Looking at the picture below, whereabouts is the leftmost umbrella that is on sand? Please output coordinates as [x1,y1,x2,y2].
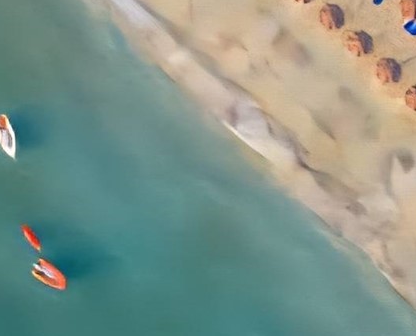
[320,5,342,27]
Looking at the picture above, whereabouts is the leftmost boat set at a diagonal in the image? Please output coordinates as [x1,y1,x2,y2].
[22,223,41,251]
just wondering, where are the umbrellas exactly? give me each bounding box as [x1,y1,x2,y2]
[346,30,369,55]
[401,0,416,17]
[375,58,399,82]
[404,86,416,109]
[320,5,342,27]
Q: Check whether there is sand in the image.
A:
Yes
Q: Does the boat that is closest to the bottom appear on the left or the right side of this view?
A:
left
